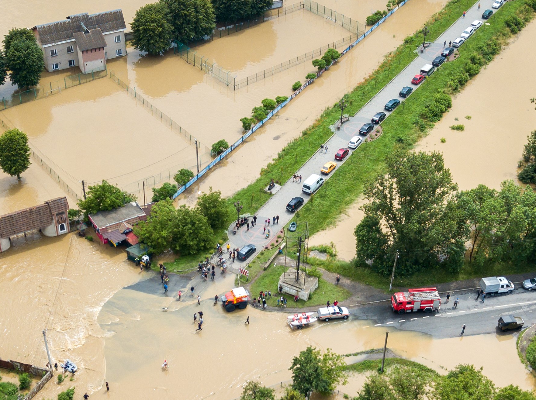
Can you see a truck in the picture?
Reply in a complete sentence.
Yes, you can see a truck in this photo.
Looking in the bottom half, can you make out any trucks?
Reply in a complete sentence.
Yes, in the bottom half there is a truck.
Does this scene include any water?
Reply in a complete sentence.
Yes, there is water in the image.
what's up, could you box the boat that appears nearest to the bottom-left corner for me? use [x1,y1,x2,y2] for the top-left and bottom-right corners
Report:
[60,359,78,373]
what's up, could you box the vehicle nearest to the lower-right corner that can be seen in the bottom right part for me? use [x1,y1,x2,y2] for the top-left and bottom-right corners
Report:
[495,314,524,332]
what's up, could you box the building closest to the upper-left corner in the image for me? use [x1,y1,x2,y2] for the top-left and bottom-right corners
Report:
[31,9,129,74]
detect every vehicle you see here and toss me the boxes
[521,278,536,292]
[316,305,351,322]
[389,281,445,315]
[333,148,350,163]
[346,136,364,151]
[357,123,376,137]
[399,87,414,99]
[301,176,324,197]
[460,24,474,38]
[383,98,401,112]
[418,63,436,79]
[450,36,466,48]
[491,0,504,9]
[370,112,388,125]
[470,20,483,31]
[481,9,494,20]
[319,162,338,177]
[478,276,516,297]
[234,244,259,264]
[432,56,446,68]
[283,197,305,215]
[440,47,455,58]
[220,288,248,312]
[411,75,425,86]
[495,314,524,332]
